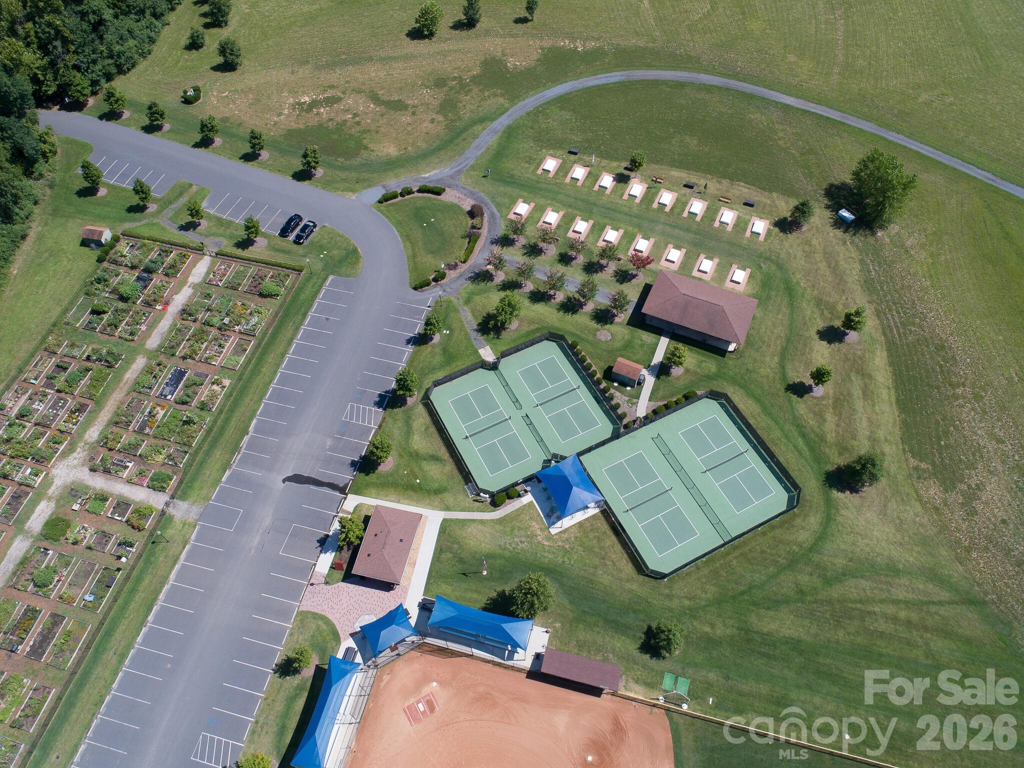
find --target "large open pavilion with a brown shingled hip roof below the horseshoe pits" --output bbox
[642,269,758,354]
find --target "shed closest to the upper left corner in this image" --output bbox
[77,225,109,248]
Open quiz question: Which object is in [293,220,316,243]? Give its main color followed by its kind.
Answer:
black car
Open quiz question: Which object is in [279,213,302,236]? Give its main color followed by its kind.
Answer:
black car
